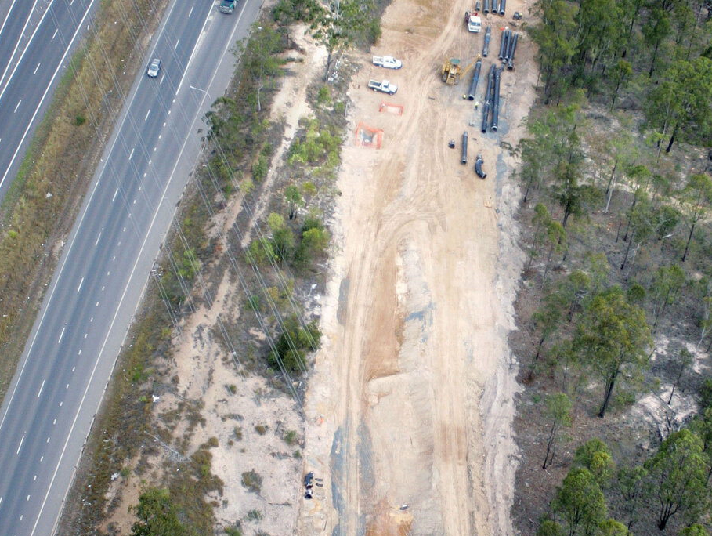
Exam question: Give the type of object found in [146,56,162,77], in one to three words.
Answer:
car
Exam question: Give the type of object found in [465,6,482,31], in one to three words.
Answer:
vehicle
